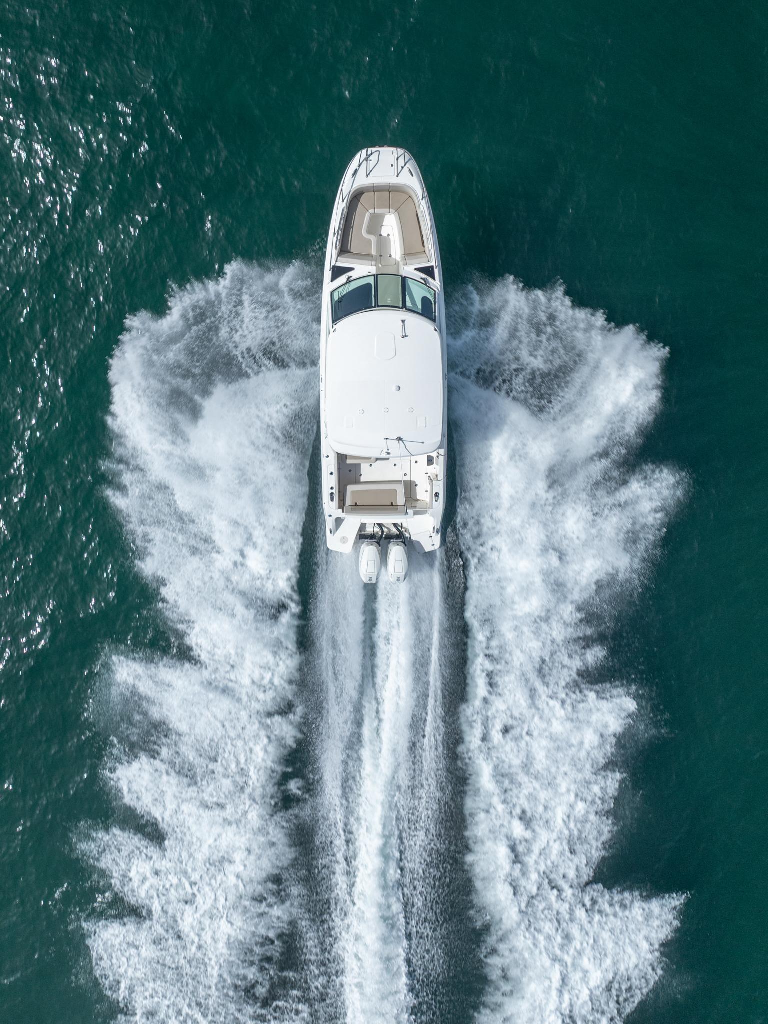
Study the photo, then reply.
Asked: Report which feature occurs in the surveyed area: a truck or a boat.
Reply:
boat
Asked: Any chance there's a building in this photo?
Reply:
No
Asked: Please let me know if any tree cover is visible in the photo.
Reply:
No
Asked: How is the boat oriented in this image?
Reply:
vertically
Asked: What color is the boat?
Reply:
white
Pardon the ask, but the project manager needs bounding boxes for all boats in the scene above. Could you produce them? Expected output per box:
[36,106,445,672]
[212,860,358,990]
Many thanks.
[320,145,448,584]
